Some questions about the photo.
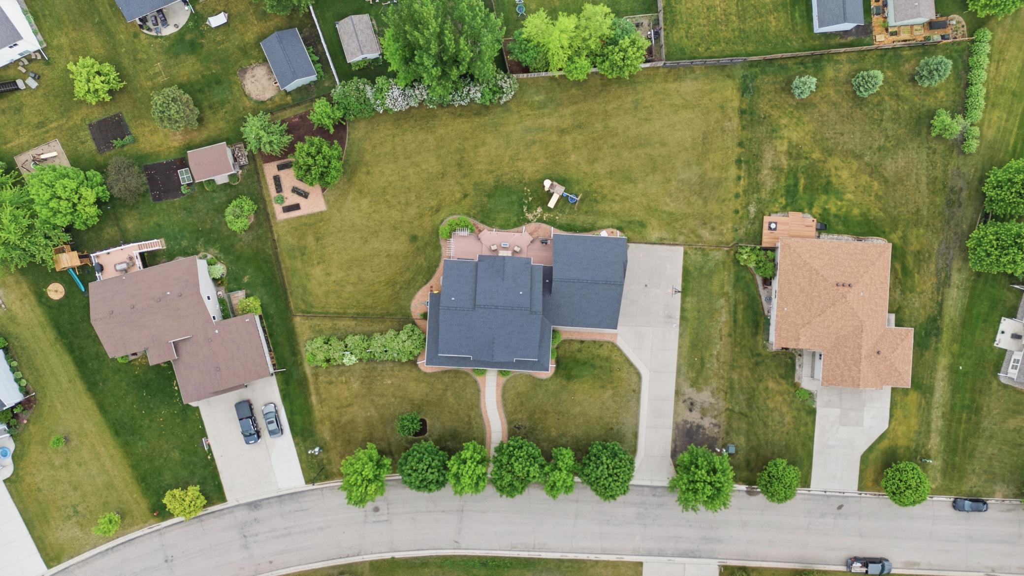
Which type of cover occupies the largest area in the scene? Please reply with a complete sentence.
Most of the picture is covered by grass.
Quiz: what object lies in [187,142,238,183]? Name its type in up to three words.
shed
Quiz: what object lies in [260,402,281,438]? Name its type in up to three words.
car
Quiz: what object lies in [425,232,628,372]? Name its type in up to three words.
house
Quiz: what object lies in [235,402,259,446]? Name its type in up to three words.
truck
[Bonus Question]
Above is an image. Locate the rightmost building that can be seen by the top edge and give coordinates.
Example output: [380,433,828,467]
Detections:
[880,0,935,29]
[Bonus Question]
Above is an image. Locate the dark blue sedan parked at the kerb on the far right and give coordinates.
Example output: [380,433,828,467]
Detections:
[955,498,991,516]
